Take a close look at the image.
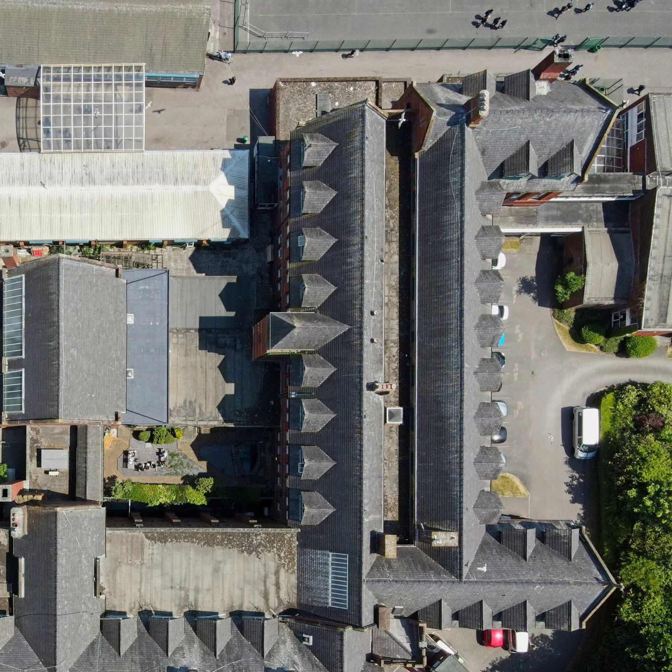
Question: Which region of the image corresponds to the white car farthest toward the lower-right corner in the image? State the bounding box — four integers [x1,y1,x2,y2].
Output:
[504,629,527,652]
